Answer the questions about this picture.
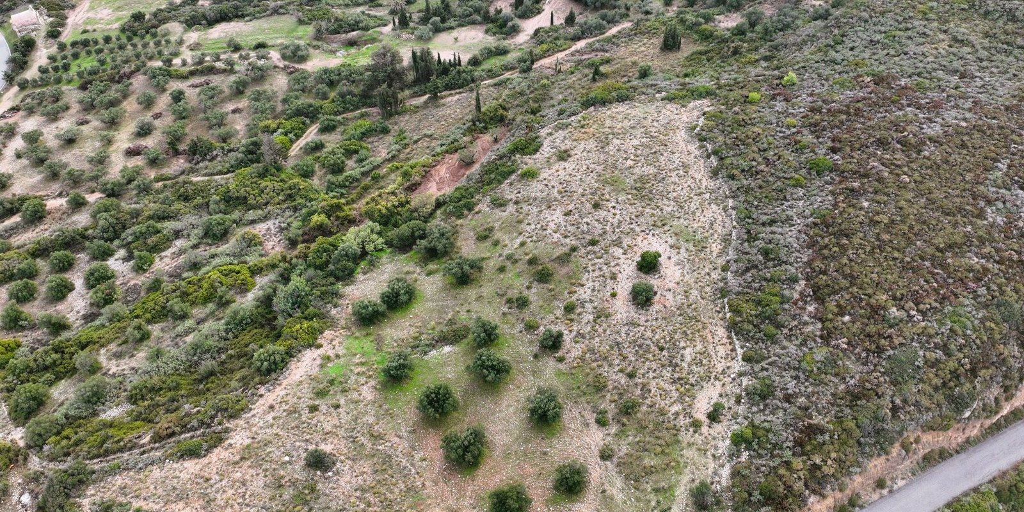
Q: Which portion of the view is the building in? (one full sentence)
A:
You can find the building in the top left area of the picture.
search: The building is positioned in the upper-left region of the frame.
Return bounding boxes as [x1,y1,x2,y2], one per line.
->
[5,3,51,30]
